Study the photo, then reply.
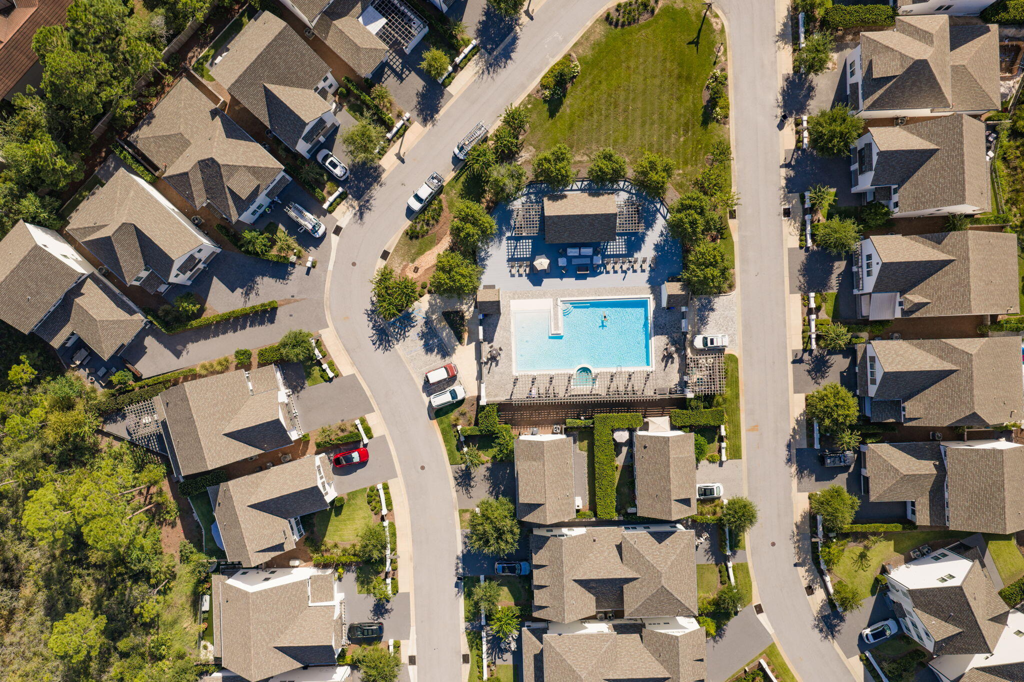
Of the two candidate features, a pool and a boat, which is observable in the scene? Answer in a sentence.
Looking from above, you can make out a pool.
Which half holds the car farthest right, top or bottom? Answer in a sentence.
Seen from above, the car farthest right lies in the bottom half of the view.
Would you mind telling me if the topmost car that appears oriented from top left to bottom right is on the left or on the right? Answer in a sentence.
The topmost car that appears oriented from top left to bottom right appears in the left half of the scene.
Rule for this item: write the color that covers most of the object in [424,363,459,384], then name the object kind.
white car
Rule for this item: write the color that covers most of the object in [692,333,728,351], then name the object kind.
white car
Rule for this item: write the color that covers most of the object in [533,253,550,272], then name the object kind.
white umbrella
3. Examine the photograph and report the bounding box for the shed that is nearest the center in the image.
[477,284,501,315]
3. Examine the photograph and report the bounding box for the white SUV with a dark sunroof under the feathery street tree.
[317,150,352,184]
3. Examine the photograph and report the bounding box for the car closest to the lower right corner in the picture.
[858,616,897,644]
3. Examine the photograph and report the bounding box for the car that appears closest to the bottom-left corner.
[349,622,385,641]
